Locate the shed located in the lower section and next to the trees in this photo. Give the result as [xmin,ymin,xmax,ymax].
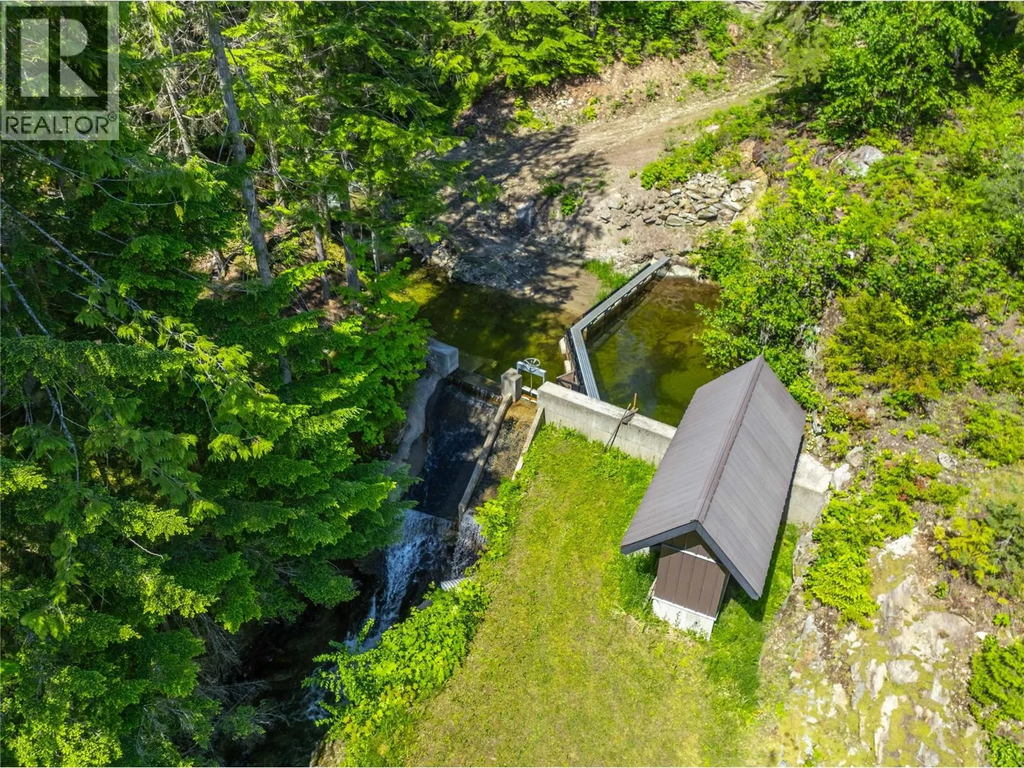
[619,352,807,638]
